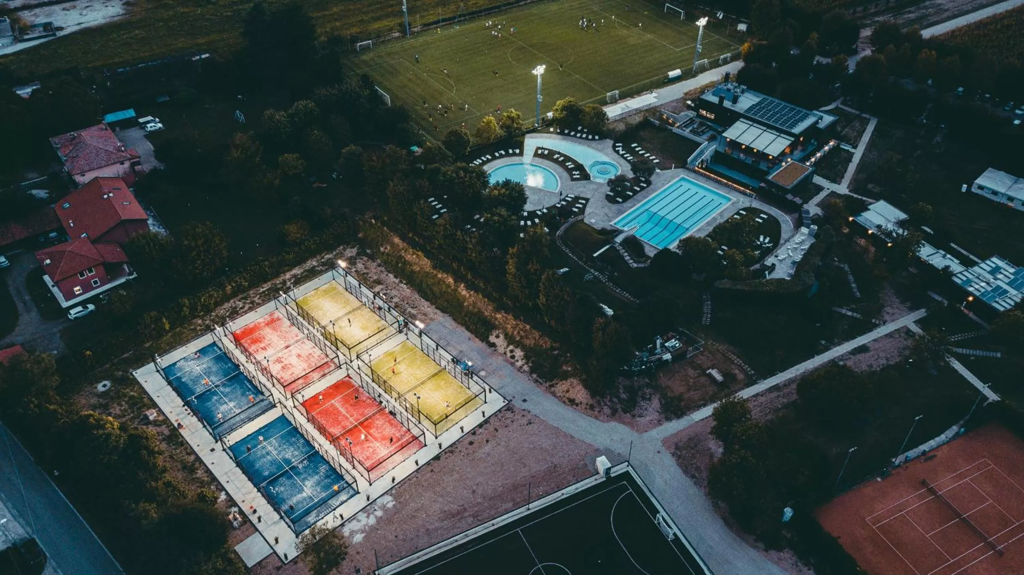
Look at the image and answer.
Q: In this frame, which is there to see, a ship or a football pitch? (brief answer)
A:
football pitch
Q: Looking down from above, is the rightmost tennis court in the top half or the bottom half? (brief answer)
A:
bottom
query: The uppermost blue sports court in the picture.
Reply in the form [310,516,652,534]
[151,324,276,441]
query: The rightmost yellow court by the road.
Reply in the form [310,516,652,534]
[356,321,486,438]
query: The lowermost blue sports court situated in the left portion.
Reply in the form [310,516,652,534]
[218,398,359,536]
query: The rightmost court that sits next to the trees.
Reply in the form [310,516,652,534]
[814,428,1024,575]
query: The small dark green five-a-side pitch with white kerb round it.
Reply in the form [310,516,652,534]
[372,459,719,575]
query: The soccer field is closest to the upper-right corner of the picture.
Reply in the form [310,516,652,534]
[326,0,742,157]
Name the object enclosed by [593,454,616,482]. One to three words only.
shed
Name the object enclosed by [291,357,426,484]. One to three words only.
sports court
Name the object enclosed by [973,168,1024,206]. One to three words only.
tent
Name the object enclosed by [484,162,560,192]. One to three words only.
swimming pool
